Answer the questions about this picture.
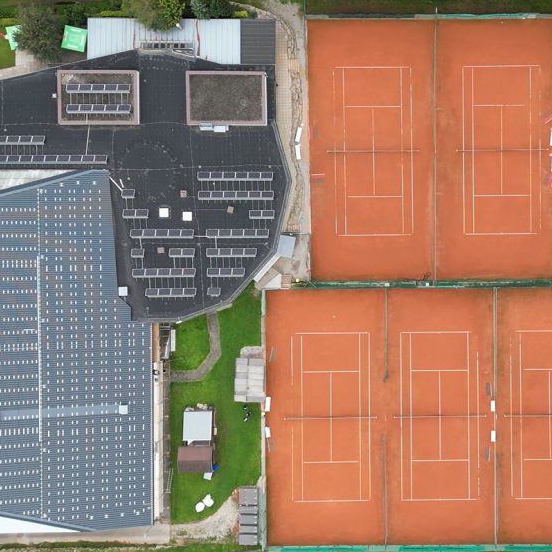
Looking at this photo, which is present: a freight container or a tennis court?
tennis court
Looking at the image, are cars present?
No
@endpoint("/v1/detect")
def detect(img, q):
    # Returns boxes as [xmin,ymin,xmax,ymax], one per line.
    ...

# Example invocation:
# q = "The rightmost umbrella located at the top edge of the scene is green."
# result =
[63,27,88,52]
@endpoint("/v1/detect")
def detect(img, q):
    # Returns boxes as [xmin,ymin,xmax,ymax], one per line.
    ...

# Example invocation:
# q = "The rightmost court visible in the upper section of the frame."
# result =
[436,18,552,281]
